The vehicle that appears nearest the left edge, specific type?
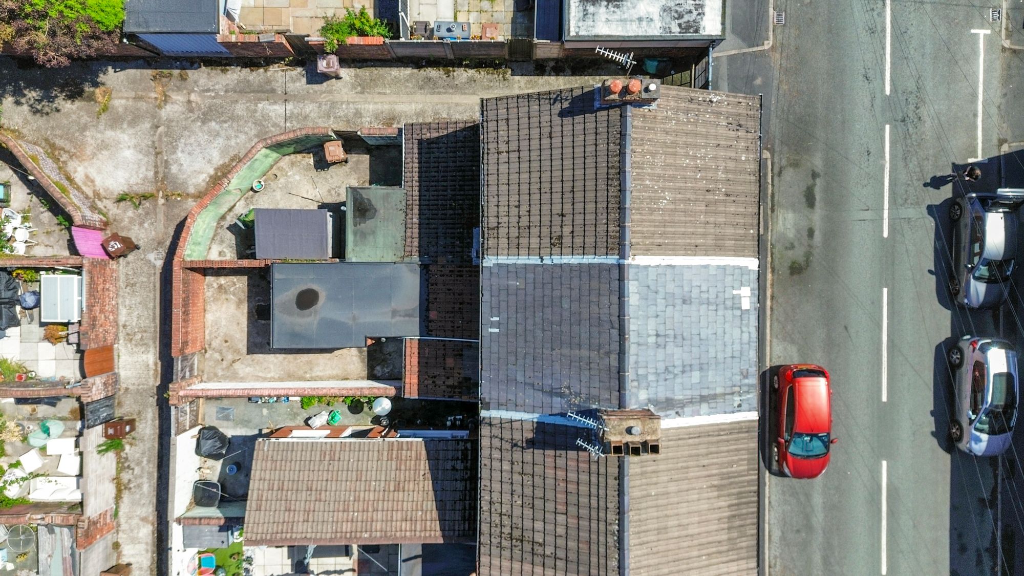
car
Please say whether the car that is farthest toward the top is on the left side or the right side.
right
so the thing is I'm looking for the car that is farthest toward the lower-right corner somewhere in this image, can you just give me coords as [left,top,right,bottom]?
[952,336,1024,459]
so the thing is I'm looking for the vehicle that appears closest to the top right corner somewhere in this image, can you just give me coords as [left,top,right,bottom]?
[952,194,1024,313]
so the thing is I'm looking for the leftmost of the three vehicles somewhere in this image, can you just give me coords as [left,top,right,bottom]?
[776,366,841,479]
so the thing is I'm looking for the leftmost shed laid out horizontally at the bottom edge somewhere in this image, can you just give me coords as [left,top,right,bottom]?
[183,525,242,548]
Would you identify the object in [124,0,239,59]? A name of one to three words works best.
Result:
shed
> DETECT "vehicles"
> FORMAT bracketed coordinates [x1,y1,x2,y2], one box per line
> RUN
[952,336,1024,459]
[952,194,1024,313]
[776,366,841,479]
